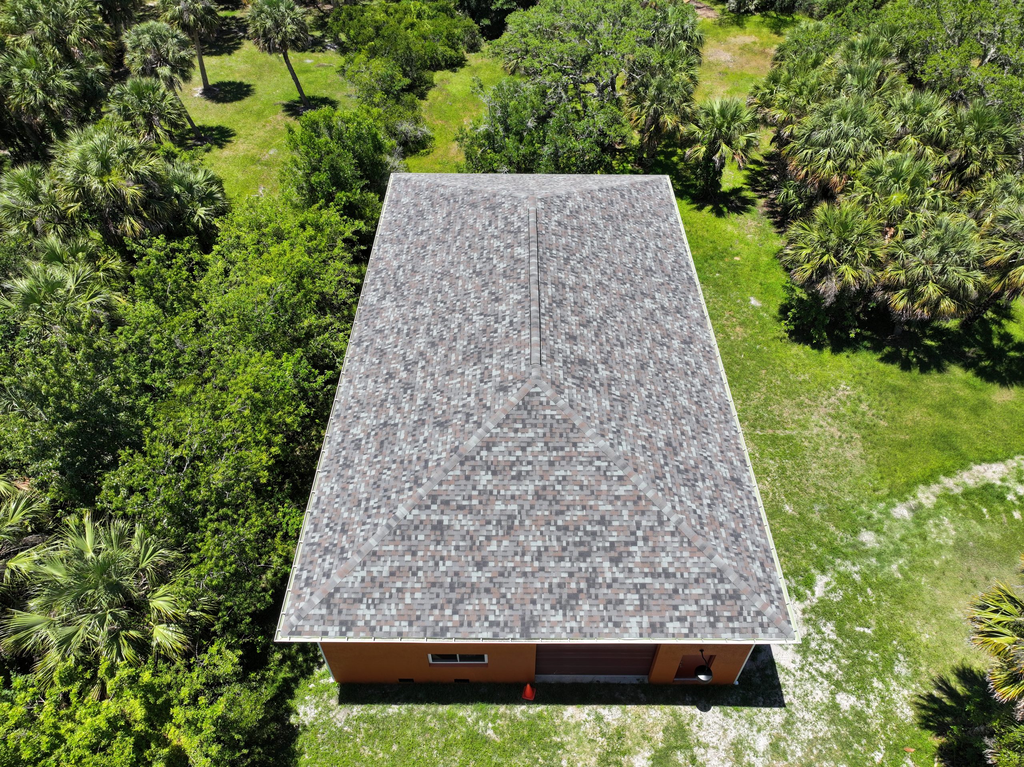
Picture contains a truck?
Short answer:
No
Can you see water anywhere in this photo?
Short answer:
No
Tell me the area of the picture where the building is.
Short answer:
center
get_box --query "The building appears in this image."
[275,173,802,685]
